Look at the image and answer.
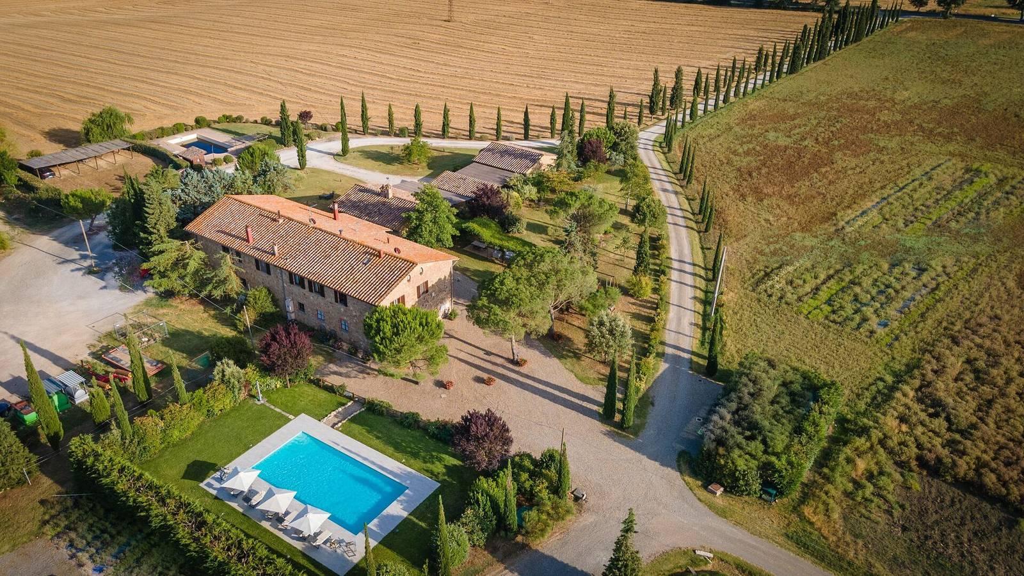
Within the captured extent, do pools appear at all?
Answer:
Yes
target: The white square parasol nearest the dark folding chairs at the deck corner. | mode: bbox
[221,466,263,502]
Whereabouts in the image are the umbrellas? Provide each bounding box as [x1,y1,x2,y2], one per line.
[221,466,263,502]
[288,505,334,538]
[255,486,298,517]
